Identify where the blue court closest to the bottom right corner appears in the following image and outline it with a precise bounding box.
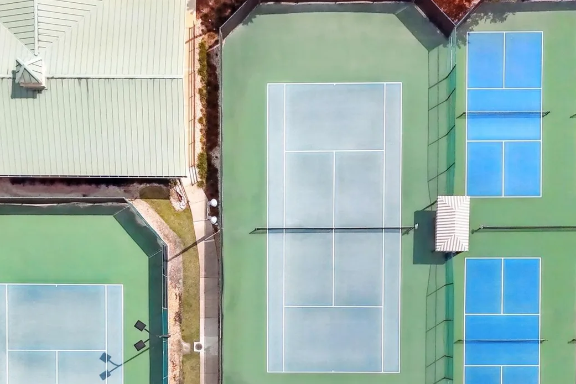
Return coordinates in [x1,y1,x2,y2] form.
[465,257,540,384]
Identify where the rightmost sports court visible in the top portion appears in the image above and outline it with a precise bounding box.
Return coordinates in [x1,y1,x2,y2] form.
[467,31,544,196]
